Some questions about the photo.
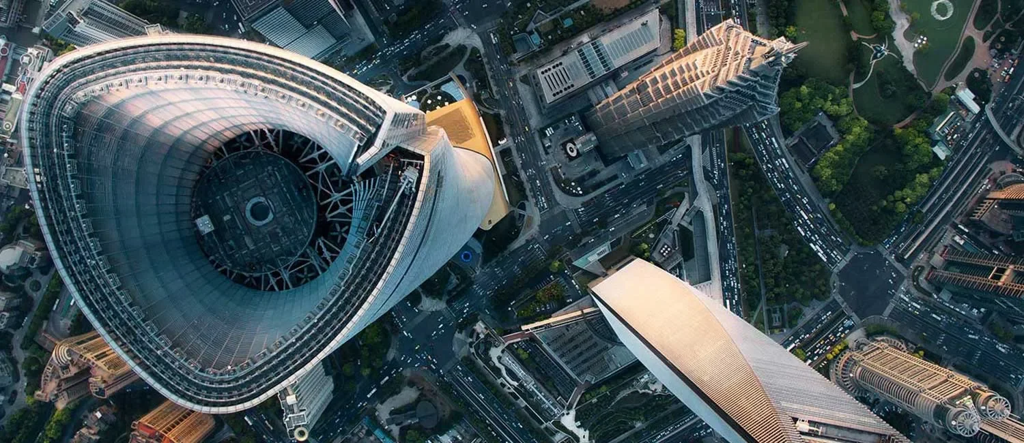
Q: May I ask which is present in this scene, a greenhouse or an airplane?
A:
greenhouse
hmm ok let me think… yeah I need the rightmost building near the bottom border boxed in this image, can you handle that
[833,335,1012,443]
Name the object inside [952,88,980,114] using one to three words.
shed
